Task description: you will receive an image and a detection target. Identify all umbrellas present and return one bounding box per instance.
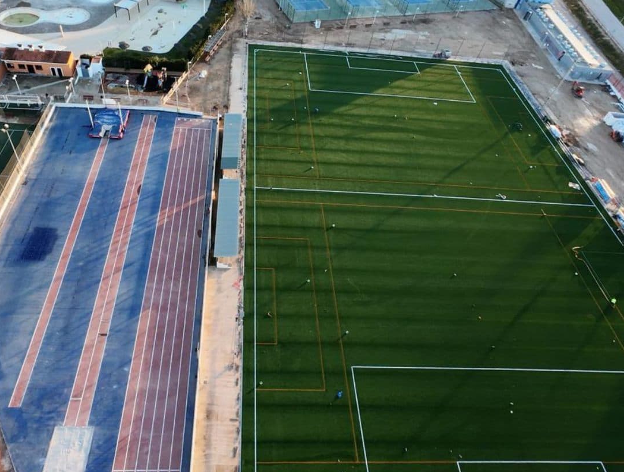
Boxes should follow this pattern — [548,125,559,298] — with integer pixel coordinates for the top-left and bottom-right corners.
[117,40,130,50]
[140,43,152,54]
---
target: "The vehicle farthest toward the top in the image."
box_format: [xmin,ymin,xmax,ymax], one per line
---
[566,83,588,97]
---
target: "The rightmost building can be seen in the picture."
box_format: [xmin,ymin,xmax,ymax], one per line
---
[516,0,618,81]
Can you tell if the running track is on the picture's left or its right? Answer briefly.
left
